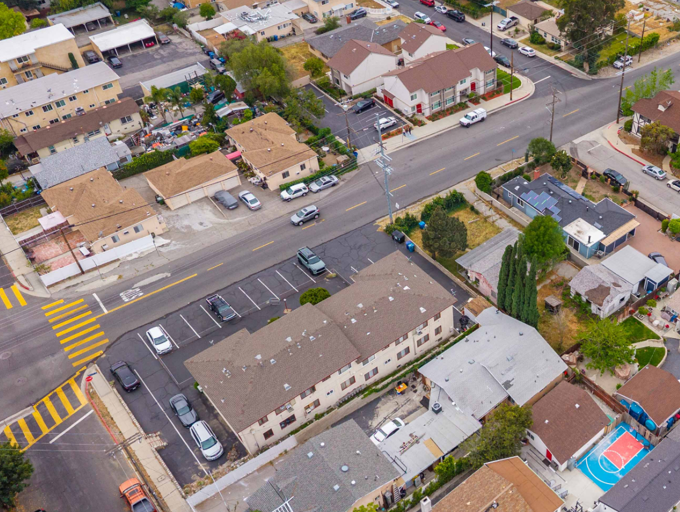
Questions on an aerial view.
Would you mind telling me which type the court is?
basketball court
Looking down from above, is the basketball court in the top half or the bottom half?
bottom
